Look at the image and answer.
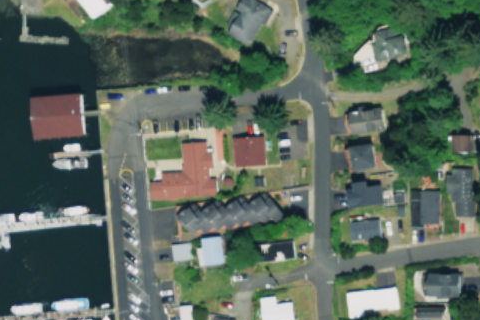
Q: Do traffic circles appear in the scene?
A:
No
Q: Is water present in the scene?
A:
Yes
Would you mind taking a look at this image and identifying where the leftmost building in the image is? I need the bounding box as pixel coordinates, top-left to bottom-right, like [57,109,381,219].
[30,94,84,140]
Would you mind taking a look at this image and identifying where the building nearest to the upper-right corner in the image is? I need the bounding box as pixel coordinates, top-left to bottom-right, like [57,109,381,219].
[372,28,408,62]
